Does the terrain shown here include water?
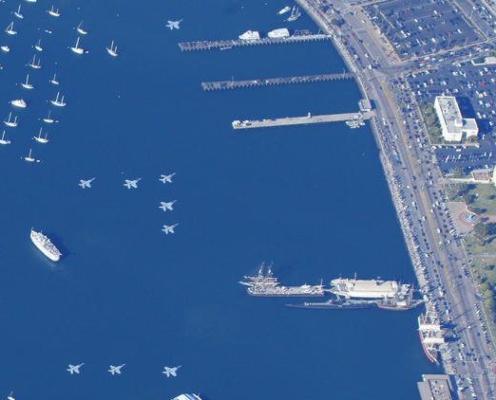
Yes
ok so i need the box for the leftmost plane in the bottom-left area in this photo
[64,364,86,377]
